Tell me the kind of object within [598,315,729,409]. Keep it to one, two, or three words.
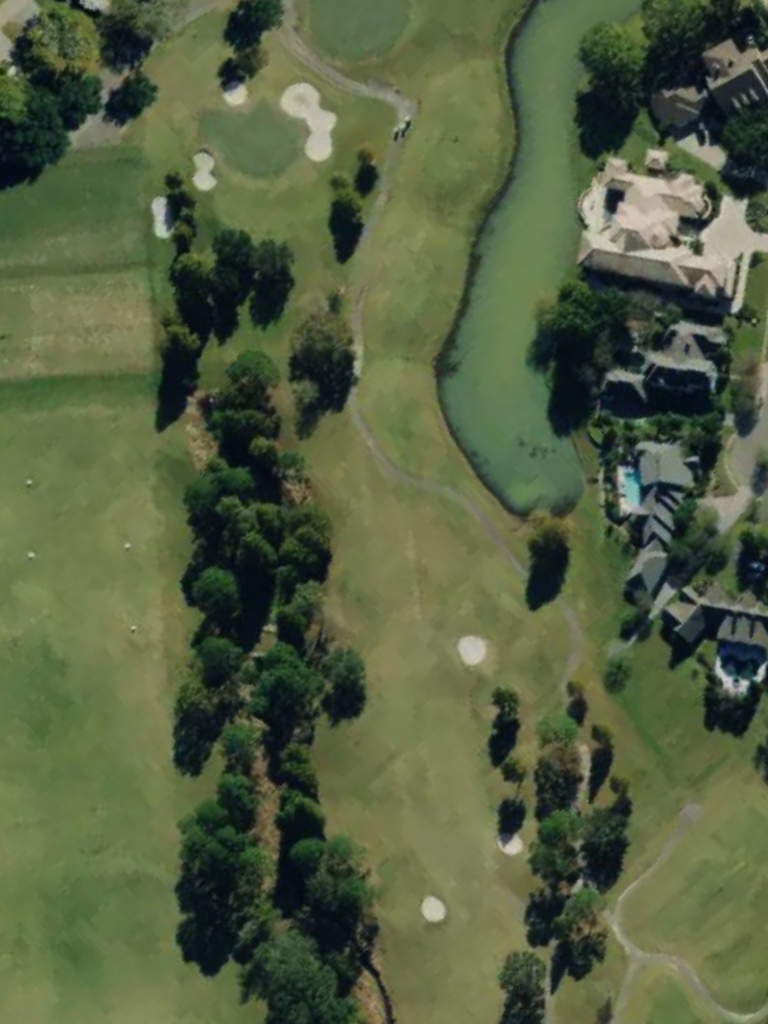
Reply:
house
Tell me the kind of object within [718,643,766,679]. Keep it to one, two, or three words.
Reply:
swimming pool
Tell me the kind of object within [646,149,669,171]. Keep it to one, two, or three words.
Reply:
building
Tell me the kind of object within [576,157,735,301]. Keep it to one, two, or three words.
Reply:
house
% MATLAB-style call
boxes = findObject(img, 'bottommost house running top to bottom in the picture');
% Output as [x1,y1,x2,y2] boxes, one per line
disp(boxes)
[625,438,700,592]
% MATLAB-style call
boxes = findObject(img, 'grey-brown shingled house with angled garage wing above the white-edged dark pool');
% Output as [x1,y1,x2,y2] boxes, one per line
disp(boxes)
[668,579,768,647]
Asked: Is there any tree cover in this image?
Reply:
Yes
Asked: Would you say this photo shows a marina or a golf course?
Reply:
golf course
